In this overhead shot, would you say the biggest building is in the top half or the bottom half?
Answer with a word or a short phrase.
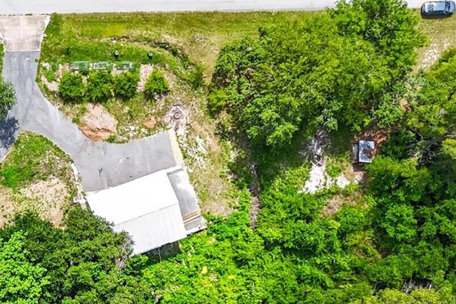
bottom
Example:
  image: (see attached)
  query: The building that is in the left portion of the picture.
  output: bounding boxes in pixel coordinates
[86,168,187,252]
